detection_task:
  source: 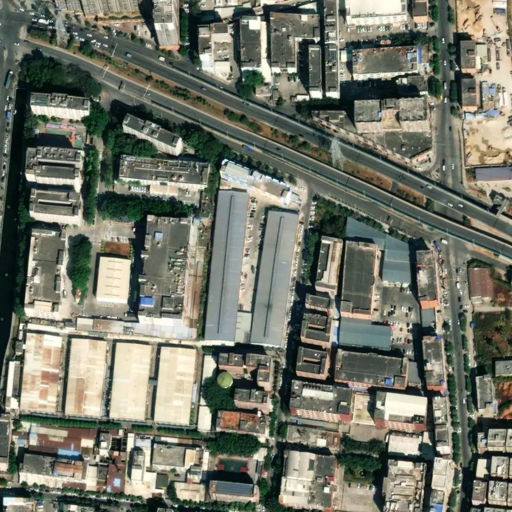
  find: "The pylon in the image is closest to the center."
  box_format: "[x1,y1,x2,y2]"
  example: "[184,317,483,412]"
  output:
[327,140,344,172]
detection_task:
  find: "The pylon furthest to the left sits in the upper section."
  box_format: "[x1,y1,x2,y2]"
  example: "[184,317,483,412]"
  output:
[51,19,68,50]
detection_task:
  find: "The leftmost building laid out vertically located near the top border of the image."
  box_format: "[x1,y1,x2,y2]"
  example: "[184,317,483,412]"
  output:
[152,0,180,51]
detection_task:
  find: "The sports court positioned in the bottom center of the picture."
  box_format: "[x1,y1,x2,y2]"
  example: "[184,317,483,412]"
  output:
[213,456,252,484]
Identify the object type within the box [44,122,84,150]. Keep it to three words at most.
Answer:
sports court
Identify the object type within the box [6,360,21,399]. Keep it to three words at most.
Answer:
house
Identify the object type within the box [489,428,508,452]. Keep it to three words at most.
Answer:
house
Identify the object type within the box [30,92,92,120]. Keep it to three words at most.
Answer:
building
